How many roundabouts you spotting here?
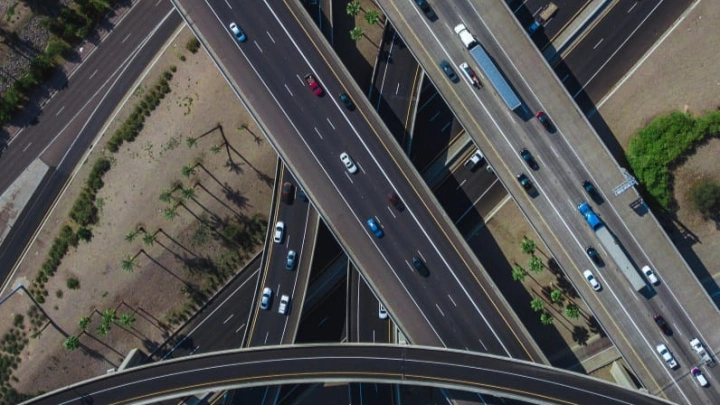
0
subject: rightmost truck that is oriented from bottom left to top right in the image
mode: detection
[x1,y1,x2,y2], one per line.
[529,0,560,30]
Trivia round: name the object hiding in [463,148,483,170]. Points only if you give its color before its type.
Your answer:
white vehicle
